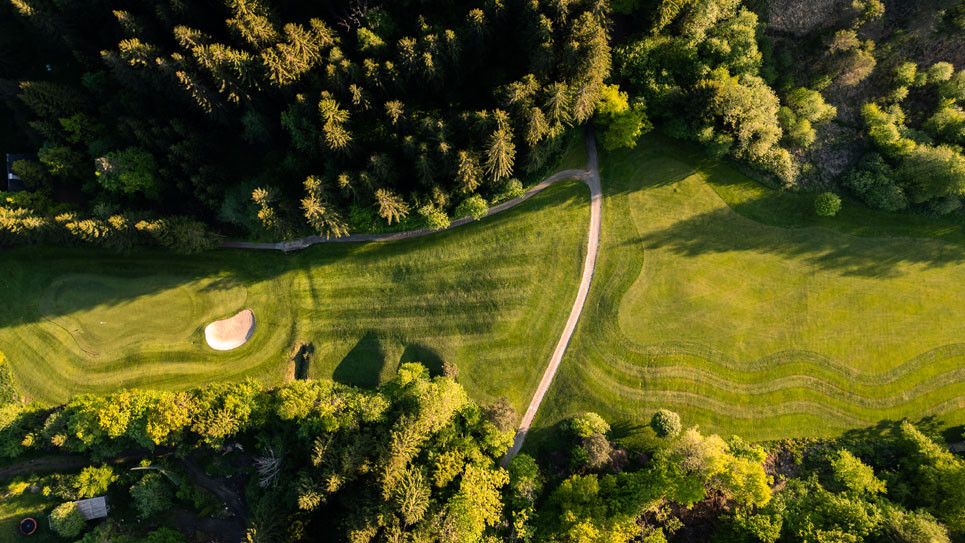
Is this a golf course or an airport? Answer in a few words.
golf course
